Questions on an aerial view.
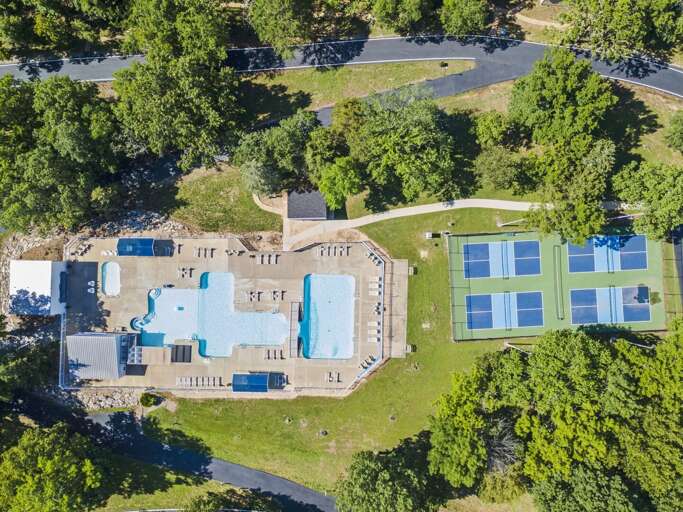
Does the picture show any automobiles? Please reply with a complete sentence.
No, there is no automobile in the image.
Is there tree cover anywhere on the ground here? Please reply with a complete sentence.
Yes, tree cover shows up in the scene.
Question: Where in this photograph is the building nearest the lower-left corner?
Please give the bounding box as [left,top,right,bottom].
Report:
[67,331,129,378]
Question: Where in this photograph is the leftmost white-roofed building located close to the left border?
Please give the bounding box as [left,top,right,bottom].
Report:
[11,261,66,315]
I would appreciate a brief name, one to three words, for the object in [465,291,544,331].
sports court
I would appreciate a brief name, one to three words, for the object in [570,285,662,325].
sports court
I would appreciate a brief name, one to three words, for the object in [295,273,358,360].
swimming pool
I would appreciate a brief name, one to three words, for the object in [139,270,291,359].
swimming pool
